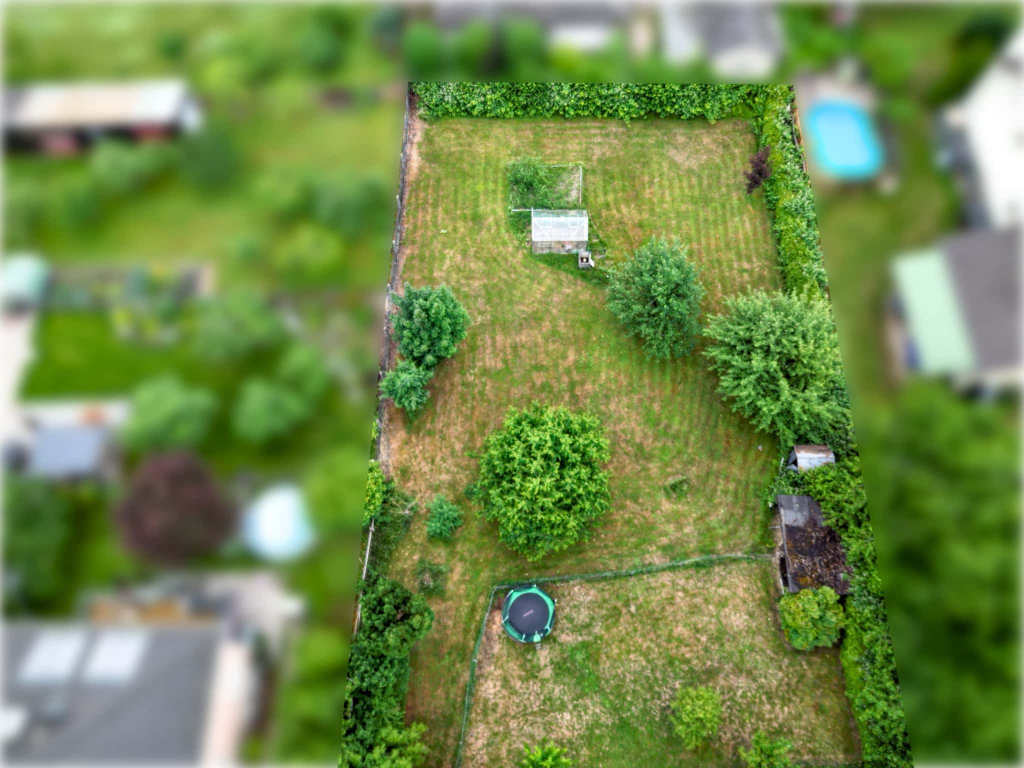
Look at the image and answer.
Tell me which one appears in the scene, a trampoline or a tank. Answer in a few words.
trampoline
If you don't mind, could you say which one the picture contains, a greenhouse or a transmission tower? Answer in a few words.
greenhouse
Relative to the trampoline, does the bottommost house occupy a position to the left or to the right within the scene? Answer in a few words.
left of it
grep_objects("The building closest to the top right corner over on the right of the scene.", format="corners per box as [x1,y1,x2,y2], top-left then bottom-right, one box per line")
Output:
[919,29,1024,237]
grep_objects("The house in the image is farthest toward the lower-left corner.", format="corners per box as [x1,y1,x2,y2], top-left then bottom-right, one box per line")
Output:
[0,624,252,768]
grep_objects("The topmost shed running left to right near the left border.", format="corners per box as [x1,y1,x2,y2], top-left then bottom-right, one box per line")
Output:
[0,82,185,151]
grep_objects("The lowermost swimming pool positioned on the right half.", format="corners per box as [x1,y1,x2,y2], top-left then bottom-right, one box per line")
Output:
[804,106,882,182]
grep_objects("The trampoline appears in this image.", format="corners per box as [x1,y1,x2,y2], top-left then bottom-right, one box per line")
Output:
[501,585,556,645]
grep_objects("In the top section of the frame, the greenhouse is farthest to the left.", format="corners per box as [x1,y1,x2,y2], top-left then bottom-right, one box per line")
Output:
[0,261,57,314]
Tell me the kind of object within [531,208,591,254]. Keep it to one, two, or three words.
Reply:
greenhouse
